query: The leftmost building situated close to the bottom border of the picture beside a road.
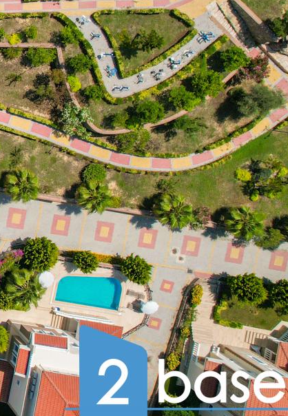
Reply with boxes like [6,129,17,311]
[0,309,128,416]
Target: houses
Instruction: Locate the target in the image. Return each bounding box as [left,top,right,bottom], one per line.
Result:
[176,324,288,416]
[0,309,128,416]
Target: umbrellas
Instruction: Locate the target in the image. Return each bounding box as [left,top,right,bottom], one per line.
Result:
[37,272,54,288]
[136,297,158,317]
